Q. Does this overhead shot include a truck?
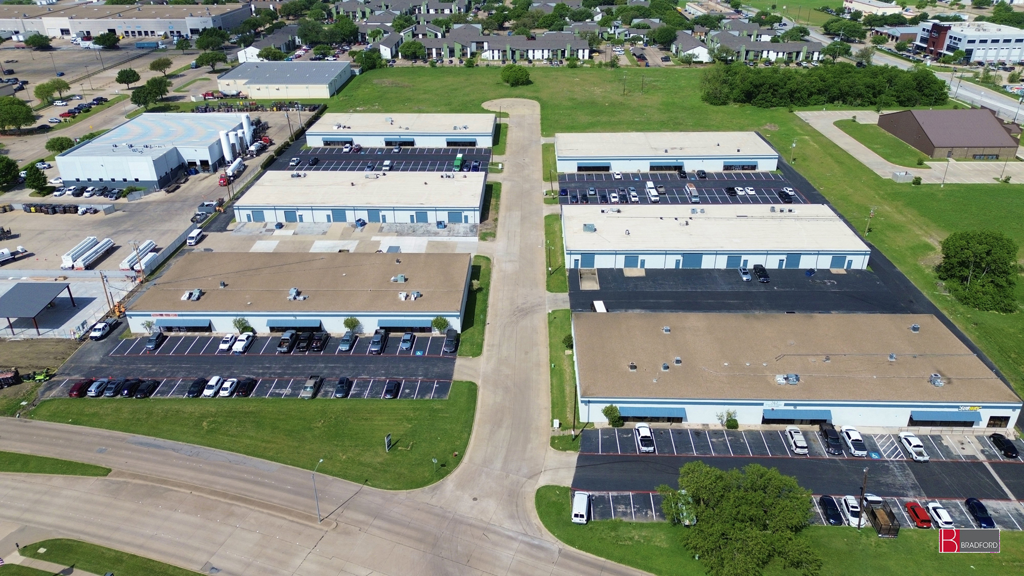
Yes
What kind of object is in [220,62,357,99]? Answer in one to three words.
shed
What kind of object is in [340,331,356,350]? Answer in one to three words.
car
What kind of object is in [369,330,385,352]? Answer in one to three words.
vehicle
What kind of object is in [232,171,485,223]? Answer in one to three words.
building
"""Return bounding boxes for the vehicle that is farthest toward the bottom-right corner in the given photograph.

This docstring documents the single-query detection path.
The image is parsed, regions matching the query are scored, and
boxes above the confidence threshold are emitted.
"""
[962,499,997,530]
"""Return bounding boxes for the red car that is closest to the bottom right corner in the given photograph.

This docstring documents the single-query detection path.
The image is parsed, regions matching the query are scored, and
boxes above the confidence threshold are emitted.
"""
[902,501,936,533]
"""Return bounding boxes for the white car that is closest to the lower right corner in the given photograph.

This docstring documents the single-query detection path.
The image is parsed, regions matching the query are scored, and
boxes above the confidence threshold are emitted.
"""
[924,501,959,533]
